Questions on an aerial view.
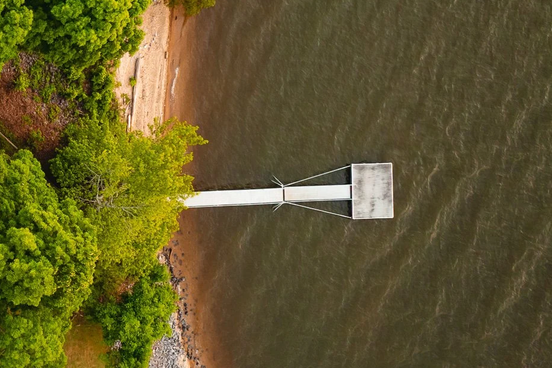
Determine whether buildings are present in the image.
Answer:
No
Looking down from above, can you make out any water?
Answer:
Yes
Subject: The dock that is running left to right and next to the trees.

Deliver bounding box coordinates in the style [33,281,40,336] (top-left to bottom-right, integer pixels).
[184,161,394,220]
